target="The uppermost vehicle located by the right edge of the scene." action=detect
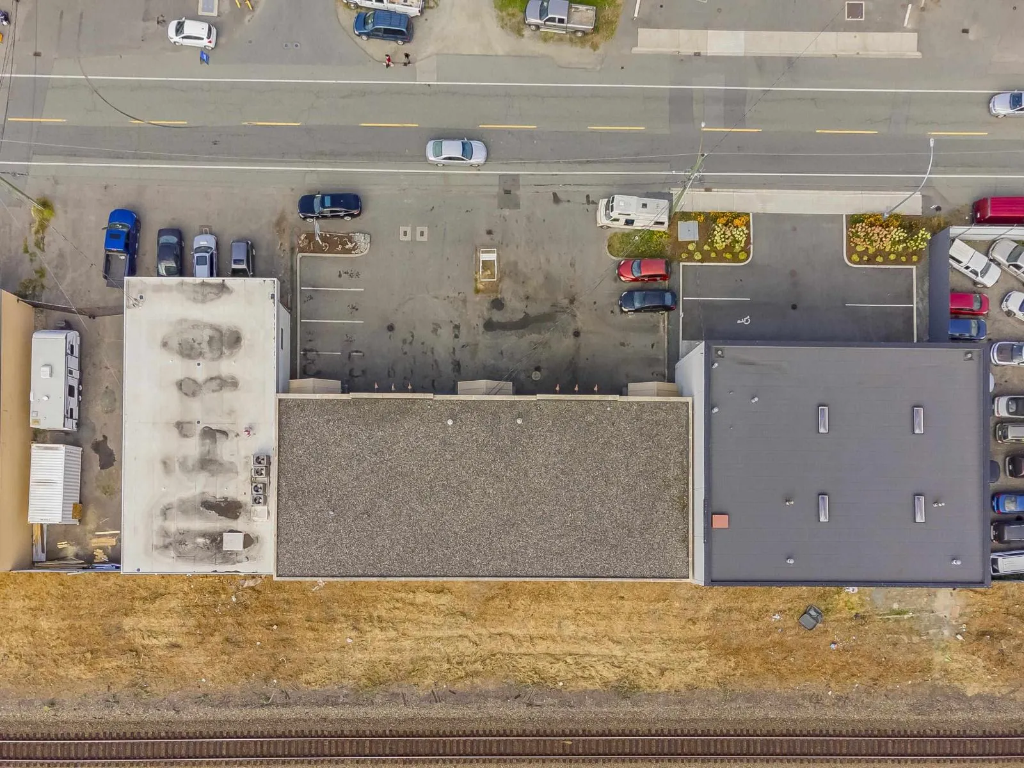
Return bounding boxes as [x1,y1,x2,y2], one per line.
[985,88,1024,121]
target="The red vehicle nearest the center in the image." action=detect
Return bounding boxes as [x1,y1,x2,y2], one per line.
[616,256,671,284]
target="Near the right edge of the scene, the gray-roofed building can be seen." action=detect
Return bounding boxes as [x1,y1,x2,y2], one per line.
[676,341,991,587]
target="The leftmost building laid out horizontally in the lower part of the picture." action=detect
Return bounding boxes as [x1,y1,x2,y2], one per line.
[274,381,692,582]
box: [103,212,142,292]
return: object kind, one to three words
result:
truck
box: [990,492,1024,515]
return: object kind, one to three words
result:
car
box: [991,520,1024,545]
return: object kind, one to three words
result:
truck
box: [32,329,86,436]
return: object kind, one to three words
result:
trailer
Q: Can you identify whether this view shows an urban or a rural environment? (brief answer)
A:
urban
